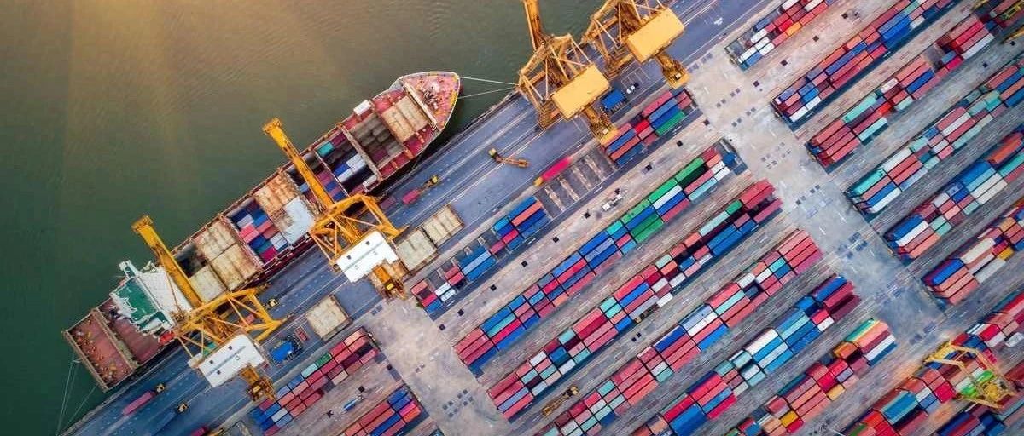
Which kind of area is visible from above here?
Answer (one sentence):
This looks like a port.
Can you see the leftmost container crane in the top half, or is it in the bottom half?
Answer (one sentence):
You can find the leftmost container crane in the bottom half.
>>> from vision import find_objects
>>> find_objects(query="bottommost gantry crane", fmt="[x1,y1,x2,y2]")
[918,334,1022,420]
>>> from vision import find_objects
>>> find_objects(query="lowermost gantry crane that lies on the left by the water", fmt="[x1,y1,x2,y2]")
[127,211,304,403]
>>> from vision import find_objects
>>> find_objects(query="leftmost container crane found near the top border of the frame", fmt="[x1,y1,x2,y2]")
[508,0,620,150]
